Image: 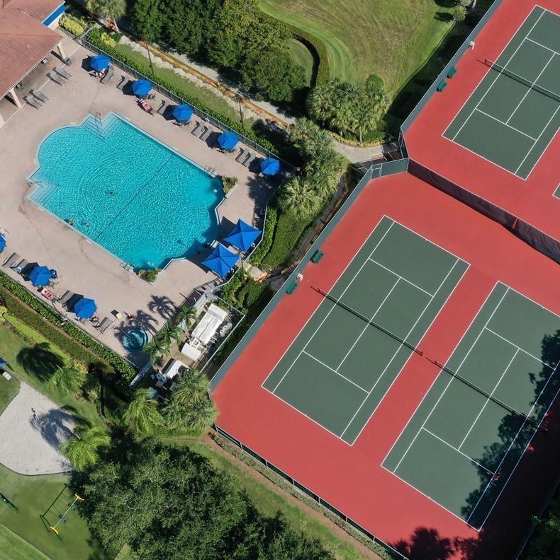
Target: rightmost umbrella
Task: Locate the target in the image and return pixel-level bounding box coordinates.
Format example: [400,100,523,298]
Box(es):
[261,157,281,178]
